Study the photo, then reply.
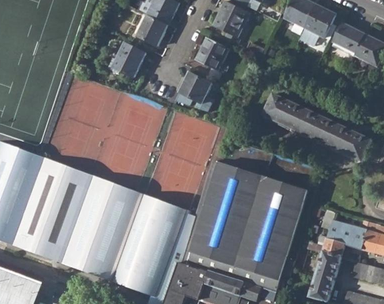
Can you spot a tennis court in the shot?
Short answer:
Yes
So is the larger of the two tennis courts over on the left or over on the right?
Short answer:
left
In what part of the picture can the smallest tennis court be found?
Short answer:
center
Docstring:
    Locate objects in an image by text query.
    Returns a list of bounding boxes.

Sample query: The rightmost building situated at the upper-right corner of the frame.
[332,22,384,67]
